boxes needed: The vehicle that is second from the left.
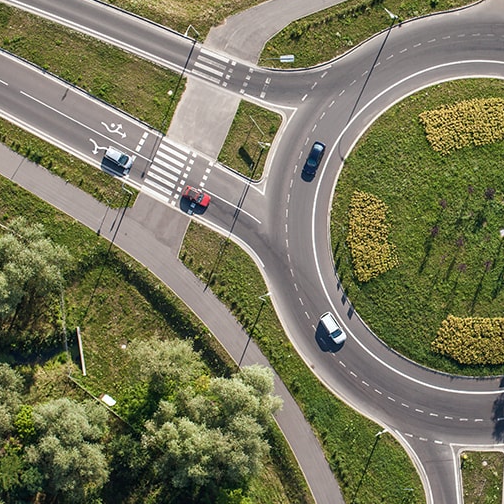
[182,186,210,206]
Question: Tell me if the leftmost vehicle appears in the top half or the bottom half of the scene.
top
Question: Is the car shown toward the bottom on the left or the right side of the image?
right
